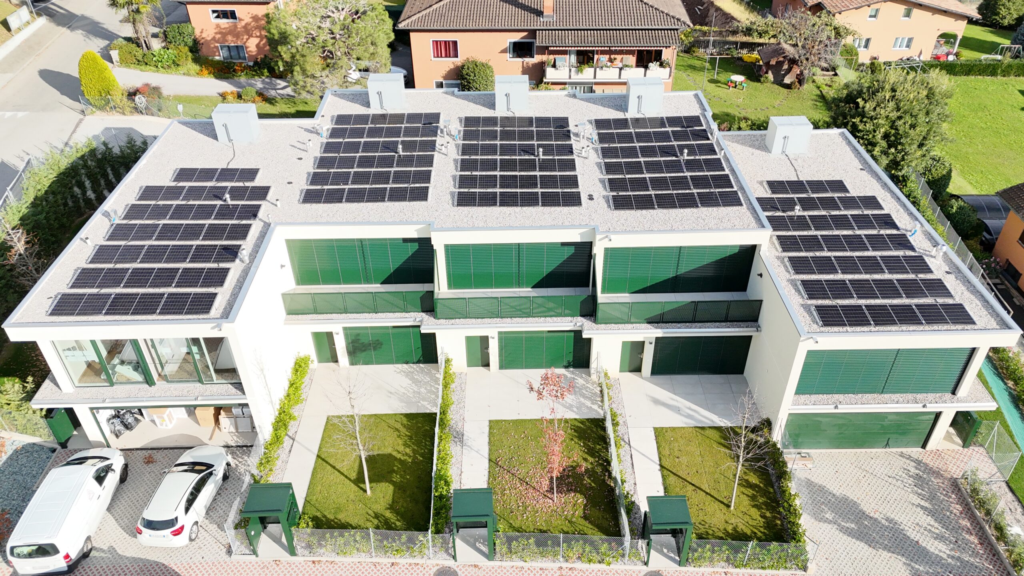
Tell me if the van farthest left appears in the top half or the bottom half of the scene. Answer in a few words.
bottom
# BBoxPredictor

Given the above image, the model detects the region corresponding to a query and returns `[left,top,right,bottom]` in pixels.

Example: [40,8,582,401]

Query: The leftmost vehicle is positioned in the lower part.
[7,452,128,576]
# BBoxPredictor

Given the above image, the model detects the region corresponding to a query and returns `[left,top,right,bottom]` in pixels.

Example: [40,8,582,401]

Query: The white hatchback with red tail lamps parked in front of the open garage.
[131,453,227,555]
